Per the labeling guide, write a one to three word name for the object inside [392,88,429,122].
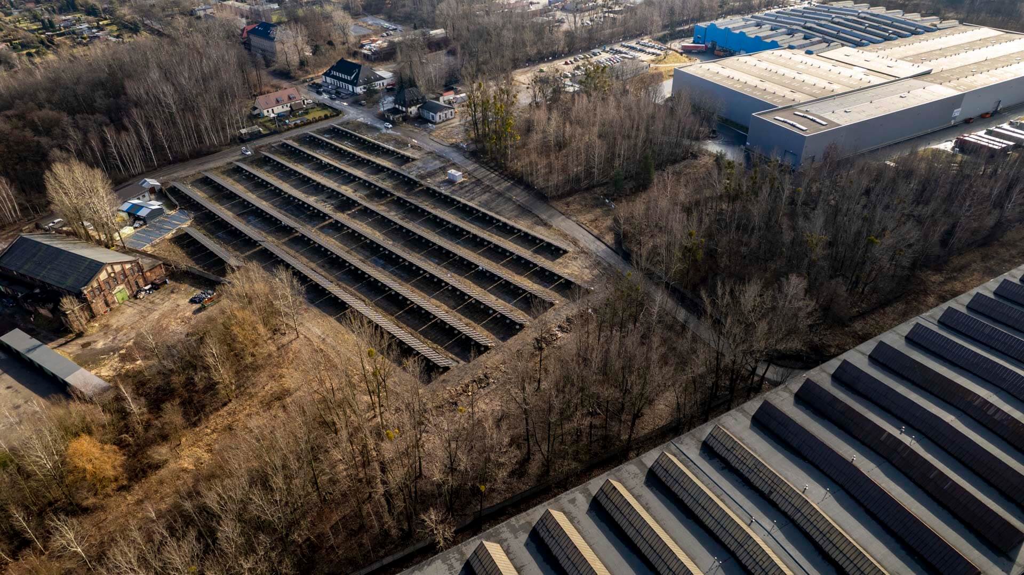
house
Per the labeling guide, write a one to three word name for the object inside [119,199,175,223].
hangar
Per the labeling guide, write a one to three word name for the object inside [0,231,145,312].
building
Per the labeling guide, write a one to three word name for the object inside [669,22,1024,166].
warehouse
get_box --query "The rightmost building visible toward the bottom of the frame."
[397,267,1024,575]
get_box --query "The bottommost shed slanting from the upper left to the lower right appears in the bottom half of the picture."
[0,328,114,405]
